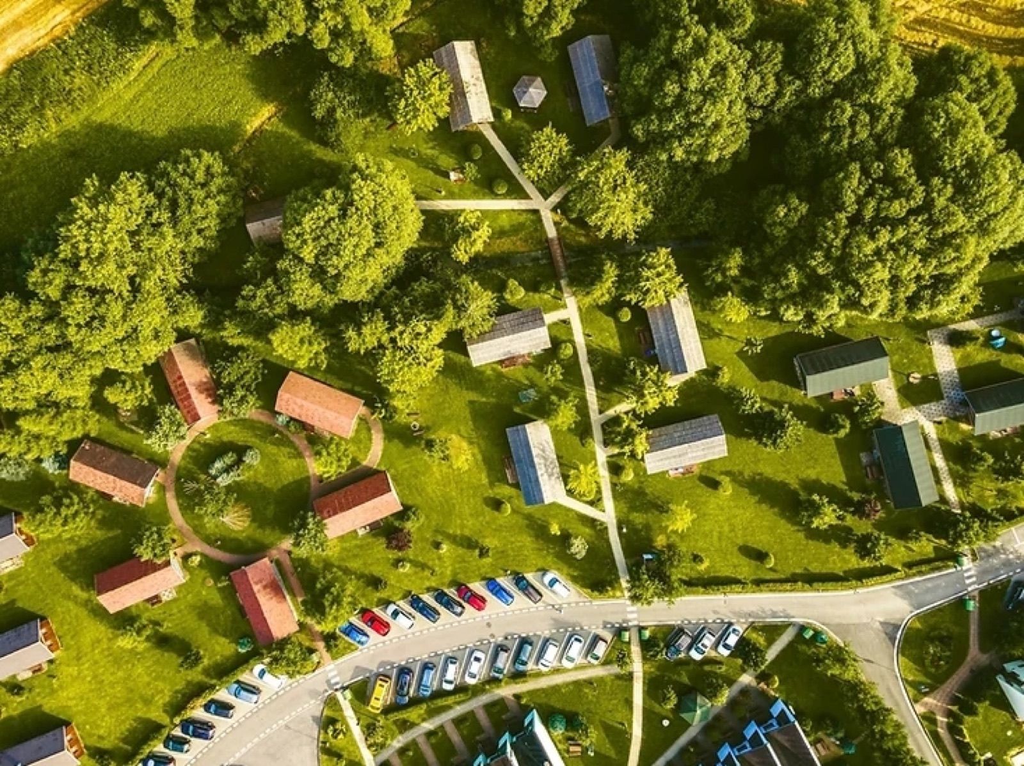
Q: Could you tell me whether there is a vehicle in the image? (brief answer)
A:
Yes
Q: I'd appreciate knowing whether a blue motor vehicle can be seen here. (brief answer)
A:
Yes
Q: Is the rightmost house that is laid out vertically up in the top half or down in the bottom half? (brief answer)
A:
bottom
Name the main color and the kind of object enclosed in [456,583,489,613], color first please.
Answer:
red car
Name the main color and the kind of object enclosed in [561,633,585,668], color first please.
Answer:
white car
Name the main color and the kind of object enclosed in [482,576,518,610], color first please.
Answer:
blue car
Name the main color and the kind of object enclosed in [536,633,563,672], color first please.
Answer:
white car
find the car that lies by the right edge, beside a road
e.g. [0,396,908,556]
[999,576,1024,615]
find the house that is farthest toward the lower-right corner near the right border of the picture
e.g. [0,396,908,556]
[996,662,1024,725]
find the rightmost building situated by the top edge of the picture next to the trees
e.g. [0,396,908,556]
[567,34,630,129]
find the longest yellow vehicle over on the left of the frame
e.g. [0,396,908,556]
[366,672,392,715]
